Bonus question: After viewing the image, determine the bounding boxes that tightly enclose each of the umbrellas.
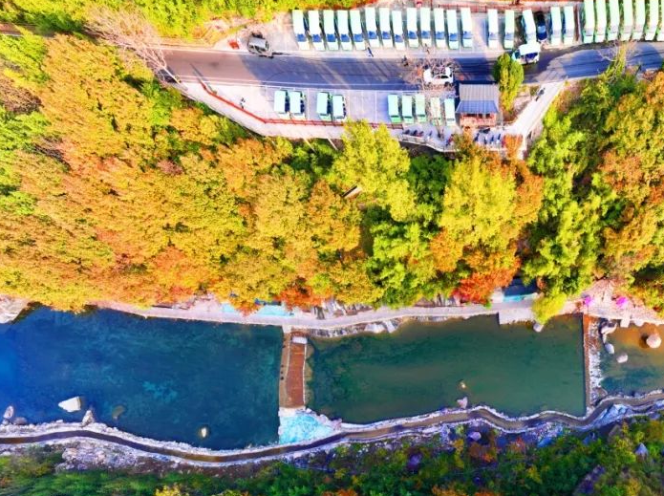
[582,295,592,305]
[616,296,628,307]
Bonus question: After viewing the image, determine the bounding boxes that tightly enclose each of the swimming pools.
[0,307,280,451]
[304,314,583,426]
[596,325,664,400]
